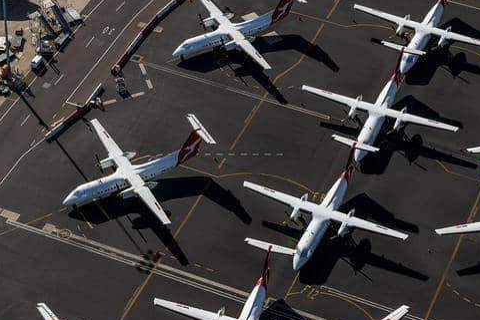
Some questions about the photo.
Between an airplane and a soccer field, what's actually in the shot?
airplane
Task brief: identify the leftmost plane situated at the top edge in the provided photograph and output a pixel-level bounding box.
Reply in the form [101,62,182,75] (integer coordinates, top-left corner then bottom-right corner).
[172,0,305,67]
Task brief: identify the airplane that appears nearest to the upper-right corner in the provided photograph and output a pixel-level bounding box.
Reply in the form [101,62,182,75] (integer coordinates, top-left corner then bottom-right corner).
[354,0,480,72]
